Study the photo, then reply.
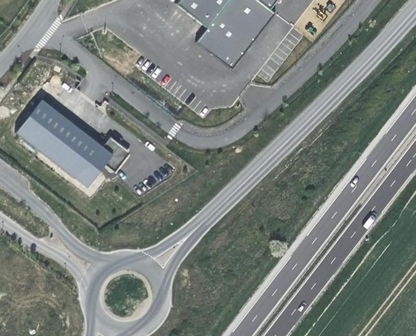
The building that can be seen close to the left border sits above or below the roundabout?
above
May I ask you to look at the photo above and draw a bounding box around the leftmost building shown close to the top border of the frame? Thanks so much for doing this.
[176,0,279,68]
